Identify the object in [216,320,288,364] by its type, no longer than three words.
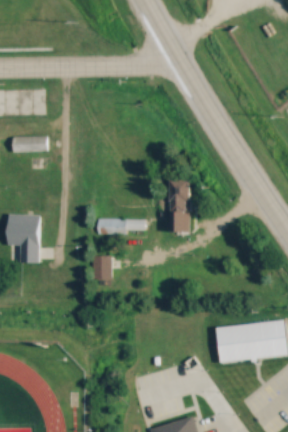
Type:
building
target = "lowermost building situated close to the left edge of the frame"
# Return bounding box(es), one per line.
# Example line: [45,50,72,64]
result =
[6,214,42,263]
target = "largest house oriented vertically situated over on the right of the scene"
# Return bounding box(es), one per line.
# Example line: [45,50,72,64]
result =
[170,179,194,236]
